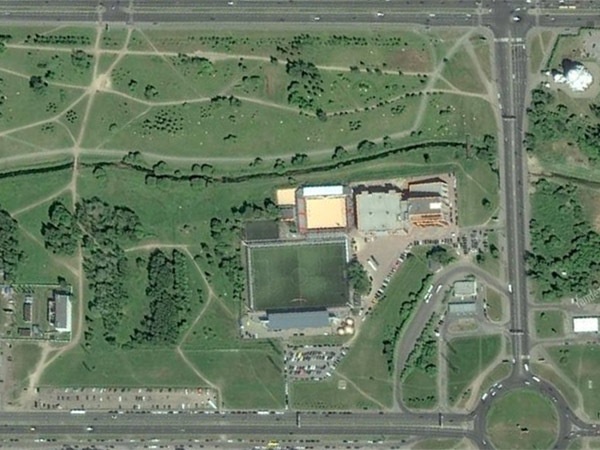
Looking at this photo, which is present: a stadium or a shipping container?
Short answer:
stadium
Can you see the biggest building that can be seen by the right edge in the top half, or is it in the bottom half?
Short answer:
top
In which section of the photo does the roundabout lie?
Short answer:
bottom right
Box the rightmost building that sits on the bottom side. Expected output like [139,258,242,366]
[574,318,599,332]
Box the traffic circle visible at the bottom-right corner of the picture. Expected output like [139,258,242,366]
[475,377,570,450]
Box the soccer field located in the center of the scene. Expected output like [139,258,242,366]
[243,235,350,309]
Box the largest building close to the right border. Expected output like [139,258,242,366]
[566,66,595,91]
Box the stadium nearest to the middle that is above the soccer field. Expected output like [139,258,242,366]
[296,186,356,234]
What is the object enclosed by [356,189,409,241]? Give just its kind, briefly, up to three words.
building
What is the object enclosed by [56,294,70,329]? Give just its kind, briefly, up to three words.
shed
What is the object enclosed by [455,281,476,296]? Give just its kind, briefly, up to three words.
building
